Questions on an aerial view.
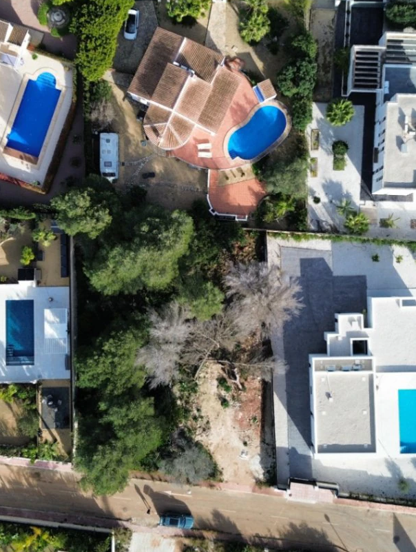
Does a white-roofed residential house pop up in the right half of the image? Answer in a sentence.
Yes, the scene does show a white-roofed residential house in the right half of the image.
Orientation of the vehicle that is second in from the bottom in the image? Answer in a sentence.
The vehicle that is second in from the bottom has been laid out from top to bottom relative to the frame.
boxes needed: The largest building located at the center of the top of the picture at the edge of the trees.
[128,27,241,149]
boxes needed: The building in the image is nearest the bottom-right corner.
[307,296,416,454]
